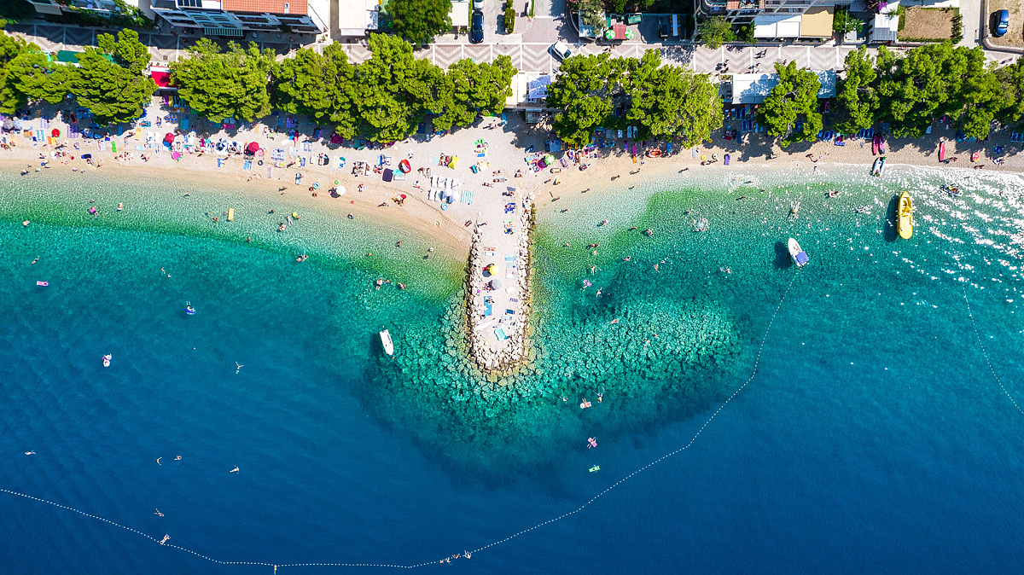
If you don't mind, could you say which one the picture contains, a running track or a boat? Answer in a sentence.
Looking from above, you can make out a boat.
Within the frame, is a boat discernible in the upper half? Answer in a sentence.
Yes, in the upper half there is a boat.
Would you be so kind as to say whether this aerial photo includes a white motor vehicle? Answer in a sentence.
Yes, a white motor vehicle can be made out from above.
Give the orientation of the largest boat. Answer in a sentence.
The largest boat is laid out up and down.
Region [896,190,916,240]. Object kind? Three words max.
boat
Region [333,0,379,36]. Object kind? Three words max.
building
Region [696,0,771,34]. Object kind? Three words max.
building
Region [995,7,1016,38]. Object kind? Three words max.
car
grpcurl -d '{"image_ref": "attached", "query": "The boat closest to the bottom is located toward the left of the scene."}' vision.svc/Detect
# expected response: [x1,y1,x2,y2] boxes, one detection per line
[377,327,391,355]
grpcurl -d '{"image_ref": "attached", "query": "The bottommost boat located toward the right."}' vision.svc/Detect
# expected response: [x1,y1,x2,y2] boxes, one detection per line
[791,239,813,270]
